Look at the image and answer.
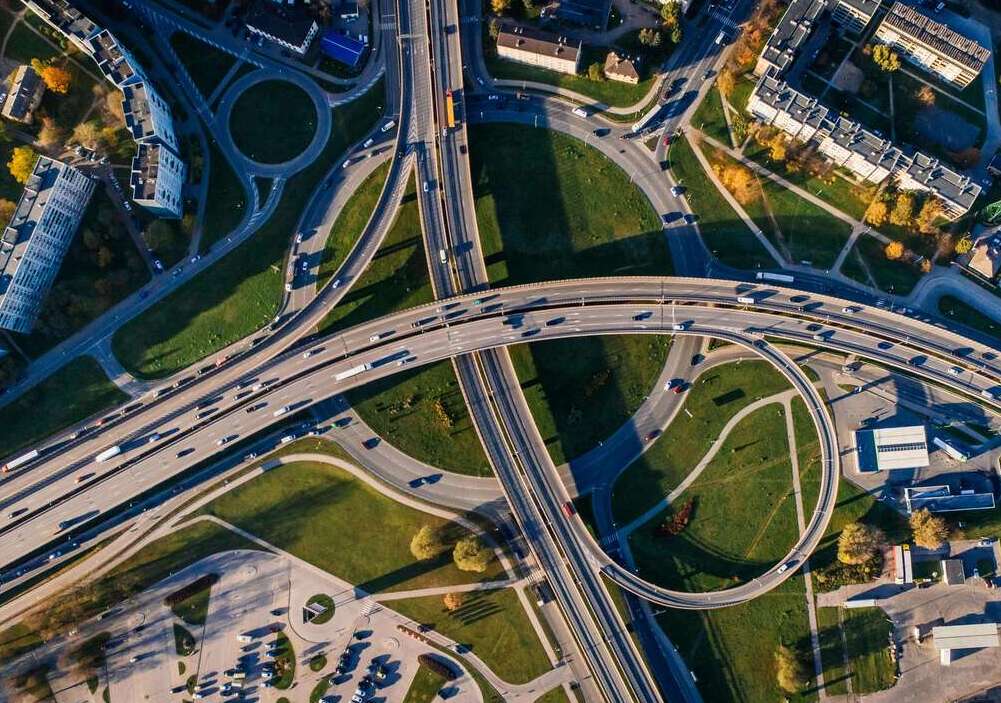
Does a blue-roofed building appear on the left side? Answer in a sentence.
Yes, on the left side there is a blue-roofed building.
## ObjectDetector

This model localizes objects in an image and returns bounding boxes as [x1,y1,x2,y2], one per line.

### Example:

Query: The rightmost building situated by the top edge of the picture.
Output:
[867,1,991,87]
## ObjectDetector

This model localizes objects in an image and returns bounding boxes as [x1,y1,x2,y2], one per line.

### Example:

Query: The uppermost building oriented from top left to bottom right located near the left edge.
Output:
[25,0,103,59]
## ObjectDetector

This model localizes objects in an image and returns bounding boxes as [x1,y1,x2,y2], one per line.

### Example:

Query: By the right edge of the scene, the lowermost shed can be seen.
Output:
[926,619,1000,649]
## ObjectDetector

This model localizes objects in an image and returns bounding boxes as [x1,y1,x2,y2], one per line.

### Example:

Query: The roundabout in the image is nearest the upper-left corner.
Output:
[216,67,330,179]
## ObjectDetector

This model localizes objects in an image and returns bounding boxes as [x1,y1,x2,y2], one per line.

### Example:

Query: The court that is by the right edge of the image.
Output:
[914,109,980,151]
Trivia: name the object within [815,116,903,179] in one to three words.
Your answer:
building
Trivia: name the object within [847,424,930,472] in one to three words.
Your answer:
building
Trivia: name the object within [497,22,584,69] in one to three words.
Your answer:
house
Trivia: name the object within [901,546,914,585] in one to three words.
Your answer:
vehicle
